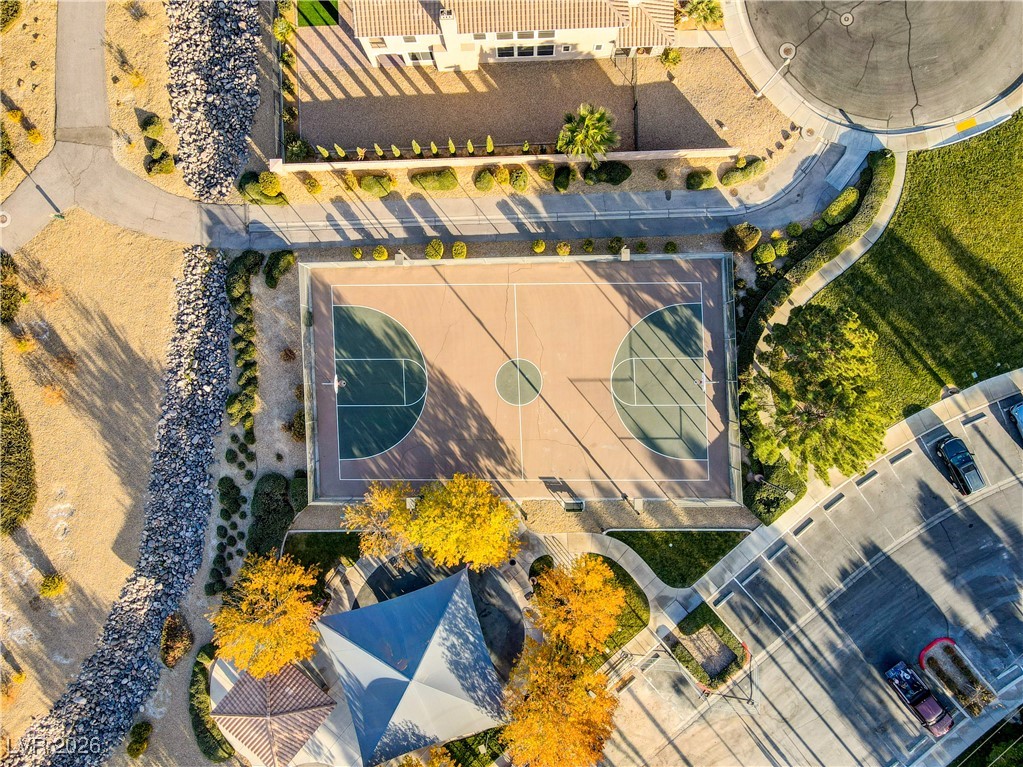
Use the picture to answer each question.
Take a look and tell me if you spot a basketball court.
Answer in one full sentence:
Yes, a basketball court is visible in the scene.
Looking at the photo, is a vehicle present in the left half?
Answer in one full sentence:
No, I see no vehicle in the left half.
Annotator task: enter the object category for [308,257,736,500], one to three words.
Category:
basketball court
